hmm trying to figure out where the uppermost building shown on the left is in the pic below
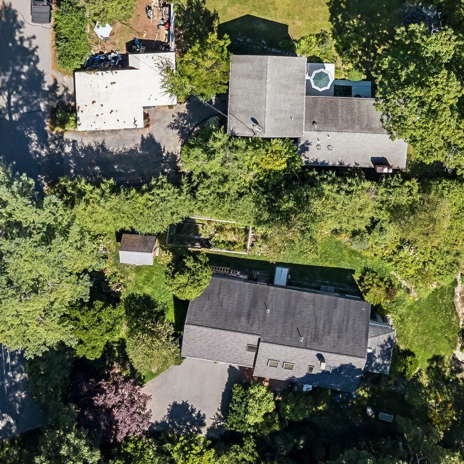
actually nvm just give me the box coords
[75,53,178,131]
